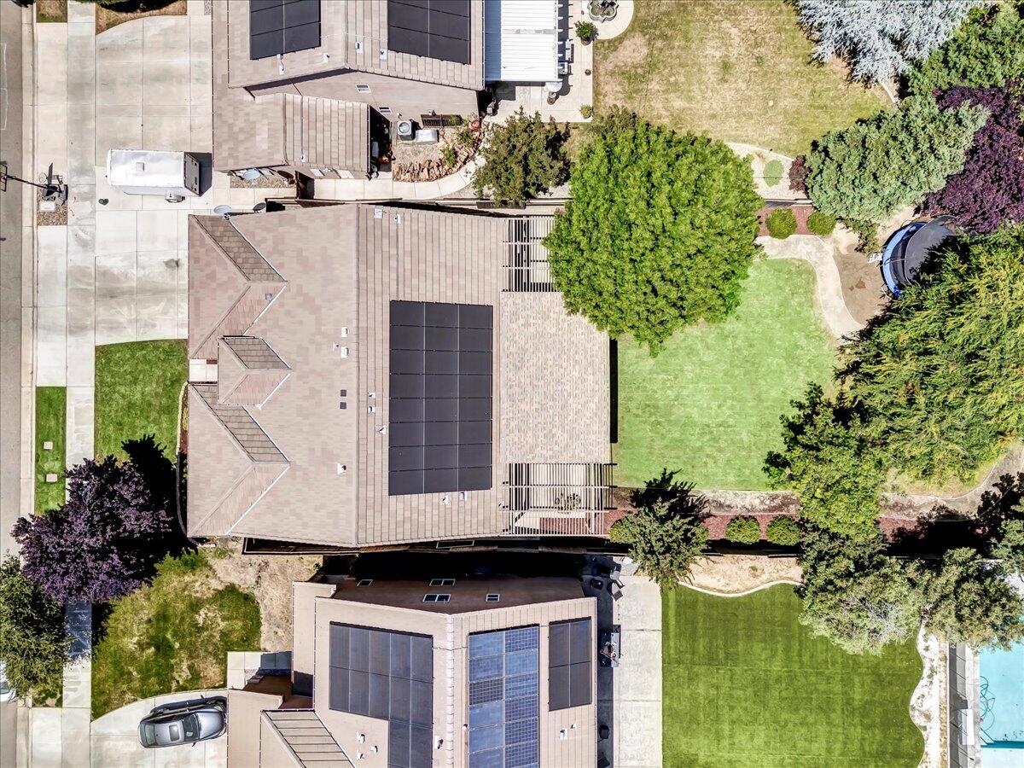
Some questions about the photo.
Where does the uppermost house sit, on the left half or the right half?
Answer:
left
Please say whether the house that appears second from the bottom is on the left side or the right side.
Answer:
left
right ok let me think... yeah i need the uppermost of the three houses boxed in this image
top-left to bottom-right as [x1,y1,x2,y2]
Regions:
[212,0,487,176]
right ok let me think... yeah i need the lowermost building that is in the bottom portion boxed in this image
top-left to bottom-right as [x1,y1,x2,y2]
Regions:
[226,576,598,768]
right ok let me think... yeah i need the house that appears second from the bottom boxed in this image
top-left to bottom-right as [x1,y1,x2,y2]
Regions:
[186,202,505,548]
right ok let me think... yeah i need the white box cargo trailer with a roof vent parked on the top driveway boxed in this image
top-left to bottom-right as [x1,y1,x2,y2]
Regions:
[107,150,198,201]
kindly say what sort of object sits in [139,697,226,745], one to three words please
car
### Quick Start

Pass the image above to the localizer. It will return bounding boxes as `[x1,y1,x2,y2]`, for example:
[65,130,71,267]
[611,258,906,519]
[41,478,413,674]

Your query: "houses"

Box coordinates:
[212,0,487,176]
[226,576,598,768]
[186,202,505,548]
